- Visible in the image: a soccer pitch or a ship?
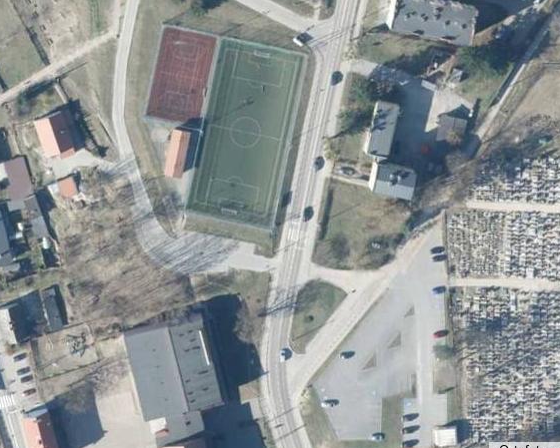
soccer pitch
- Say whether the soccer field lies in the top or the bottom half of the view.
top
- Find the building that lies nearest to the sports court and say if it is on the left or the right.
left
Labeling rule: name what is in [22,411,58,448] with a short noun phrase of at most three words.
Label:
house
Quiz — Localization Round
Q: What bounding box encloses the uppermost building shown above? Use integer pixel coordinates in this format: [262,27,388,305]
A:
[387,0,476,46]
